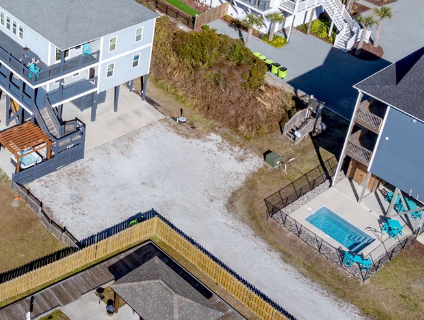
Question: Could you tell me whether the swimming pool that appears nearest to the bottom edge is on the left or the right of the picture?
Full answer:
You can find the swimming pool that appears nearest to the bottom edge on the right side of the picture.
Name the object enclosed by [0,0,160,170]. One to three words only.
house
